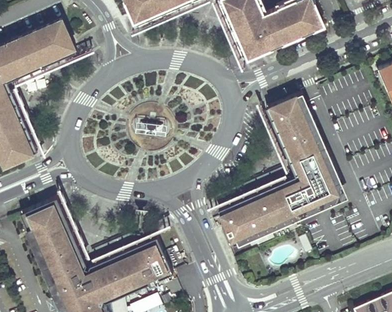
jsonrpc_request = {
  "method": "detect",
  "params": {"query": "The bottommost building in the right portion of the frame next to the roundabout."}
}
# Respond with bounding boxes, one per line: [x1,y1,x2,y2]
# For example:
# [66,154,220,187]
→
[206,96,347,249]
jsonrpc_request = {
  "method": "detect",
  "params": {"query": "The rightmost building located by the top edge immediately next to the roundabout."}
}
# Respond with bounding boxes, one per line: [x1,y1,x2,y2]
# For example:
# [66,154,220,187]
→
[212,0,326,74]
